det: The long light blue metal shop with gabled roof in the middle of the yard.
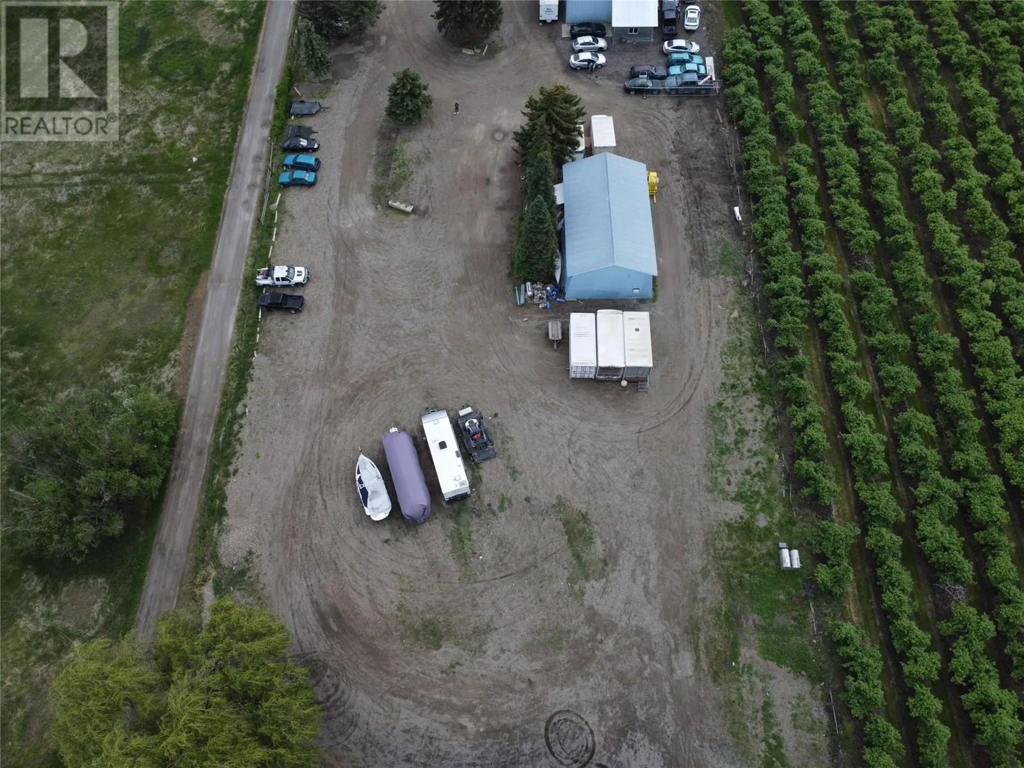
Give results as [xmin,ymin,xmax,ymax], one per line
[554,153,658,302]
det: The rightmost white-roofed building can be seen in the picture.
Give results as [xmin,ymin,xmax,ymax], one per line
[610,0,658,46]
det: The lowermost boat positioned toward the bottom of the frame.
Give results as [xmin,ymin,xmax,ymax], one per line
[355,445,391,525]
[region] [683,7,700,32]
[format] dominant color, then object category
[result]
white car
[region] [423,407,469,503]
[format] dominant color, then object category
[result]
white trailer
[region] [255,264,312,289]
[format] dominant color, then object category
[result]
white truck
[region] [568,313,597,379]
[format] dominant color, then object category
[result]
white shipping container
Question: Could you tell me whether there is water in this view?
No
